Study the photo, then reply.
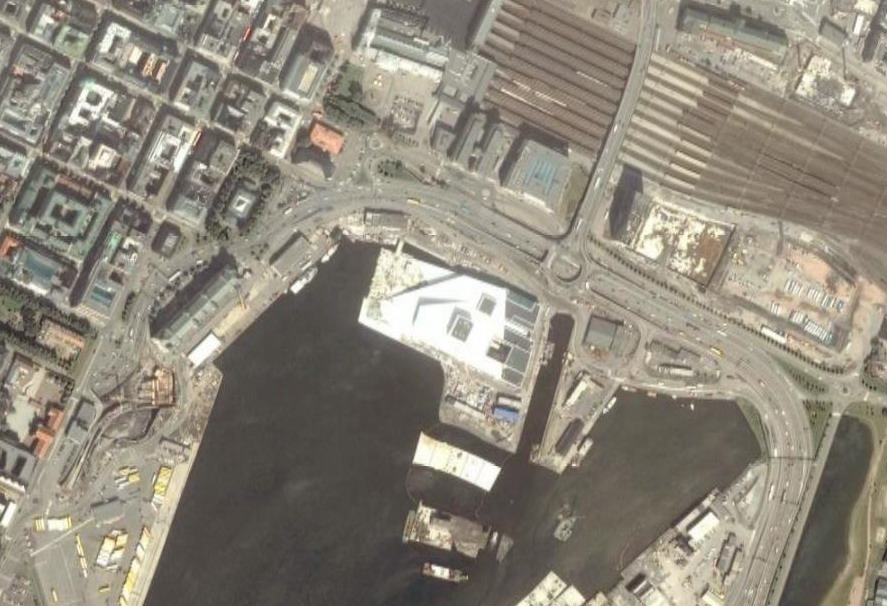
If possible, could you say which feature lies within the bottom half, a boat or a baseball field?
boat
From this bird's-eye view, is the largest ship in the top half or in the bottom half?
bottom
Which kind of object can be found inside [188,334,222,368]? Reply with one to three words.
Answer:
shed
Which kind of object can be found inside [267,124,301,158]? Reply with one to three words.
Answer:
building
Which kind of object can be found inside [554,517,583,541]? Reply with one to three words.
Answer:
boat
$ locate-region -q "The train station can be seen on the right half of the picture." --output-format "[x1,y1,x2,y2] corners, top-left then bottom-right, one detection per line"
[471,0,887,289]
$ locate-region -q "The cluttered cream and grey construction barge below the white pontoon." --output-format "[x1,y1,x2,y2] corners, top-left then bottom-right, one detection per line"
[403,500,491,558]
